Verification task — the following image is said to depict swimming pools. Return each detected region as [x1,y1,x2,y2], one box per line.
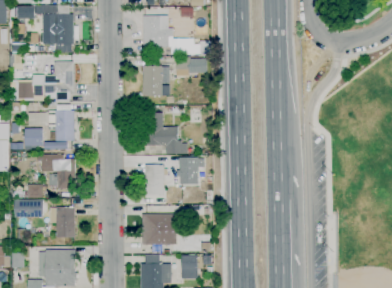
[196,17,206,27]
[18,218,29,228]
